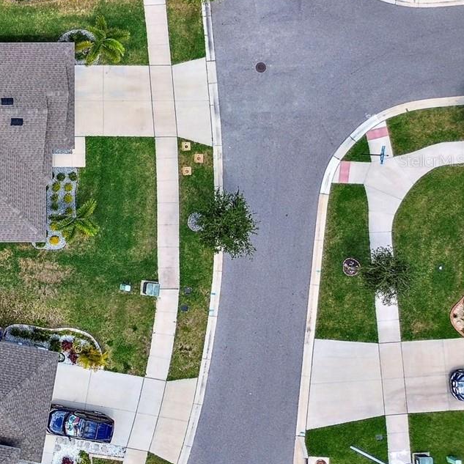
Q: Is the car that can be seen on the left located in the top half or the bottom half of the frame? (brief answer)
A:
bottom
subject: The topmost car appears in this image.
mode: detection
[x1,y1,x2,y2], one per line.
[447,371,464,400]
